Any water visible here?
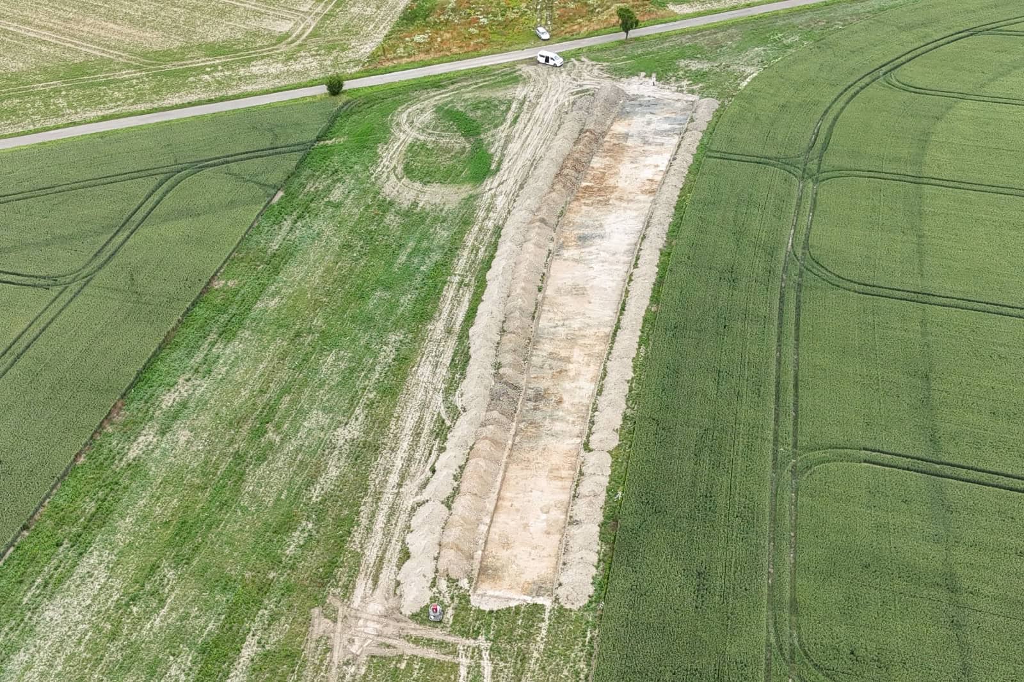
No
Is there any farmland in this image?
Yes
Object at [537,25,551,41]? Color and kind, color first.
white car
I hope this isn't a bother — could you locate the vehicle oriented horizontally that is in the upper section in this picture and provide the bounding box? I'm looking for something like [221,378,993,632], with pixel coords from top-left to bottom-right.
[538,49,566,66]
